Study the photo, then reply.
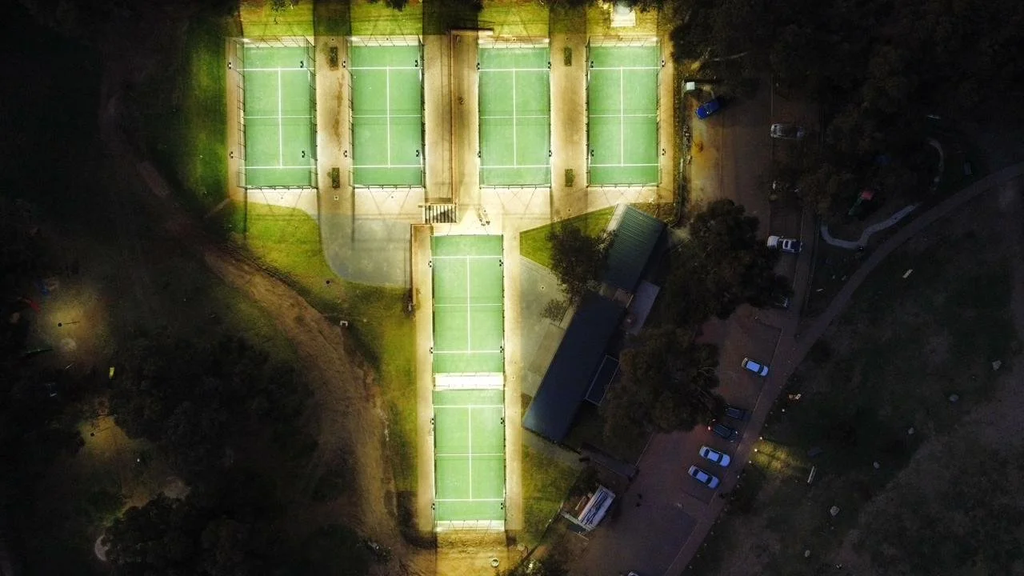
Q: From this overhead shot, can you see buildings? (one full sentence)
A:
Yes, there's a building here.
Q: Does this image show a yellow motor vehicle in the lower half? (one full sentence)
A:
No, looking in the lower half, there is no yellow motor vehicle.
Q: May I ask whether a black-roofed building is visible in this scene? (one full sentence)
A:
Yes, the picture does show a black-roofed building.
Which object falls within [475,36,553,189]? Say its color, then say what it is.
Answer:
green sports court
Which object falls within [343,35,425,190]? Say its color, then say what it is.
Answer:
green sports court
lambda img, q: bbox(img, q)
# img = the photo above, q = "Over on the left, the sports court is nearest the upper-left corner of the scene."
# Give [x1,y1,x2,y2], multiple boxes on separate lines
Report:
[231,35,318,190]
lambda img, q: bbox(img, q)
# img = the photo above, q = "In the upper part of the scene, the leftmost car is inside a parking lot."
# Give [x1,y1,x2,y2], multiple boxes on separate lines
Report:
[694,97,723,119]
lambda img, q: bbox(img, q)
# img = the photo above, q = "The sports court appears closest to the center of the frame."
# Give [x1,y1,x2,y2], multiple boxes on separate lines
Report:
[428,232,505,380]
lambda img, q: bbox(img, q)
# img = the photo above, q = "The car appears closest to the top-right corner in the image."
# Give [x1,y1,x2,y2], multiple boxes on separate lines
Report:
[769,122,806,140]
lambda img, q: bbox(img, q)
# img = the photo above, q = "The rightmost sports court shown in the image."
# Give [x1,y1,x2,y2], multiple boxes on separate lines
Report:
[585,35,665,189]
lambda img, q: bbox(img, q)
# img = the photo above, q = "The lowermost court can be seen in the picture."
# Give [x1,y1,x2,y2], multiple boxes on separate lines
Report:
[430,384,507,533]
